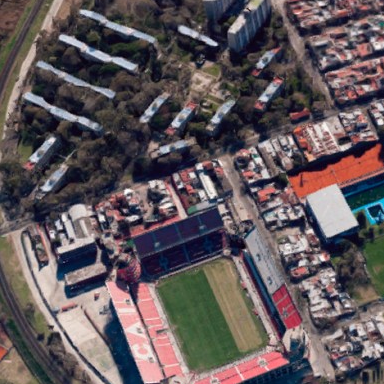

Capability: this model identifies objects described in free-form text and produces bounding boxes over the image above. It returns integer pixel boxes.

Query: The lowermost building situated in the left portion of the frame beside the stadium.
[65,262,108,289]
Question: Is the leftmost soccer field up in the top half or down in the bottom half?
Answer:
bottom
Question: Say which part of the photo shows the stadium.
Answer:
bottom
